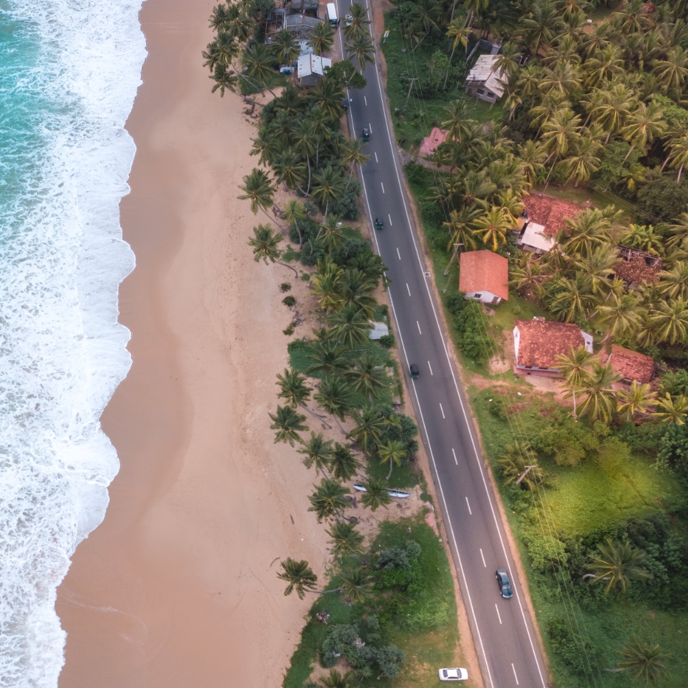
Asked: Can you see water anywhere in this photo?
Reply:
Yes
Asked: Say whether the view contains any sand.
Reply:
Yes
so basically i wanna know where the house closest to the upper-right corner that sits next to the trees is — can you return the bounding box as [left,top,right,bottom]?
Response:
[463,55,513,105]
